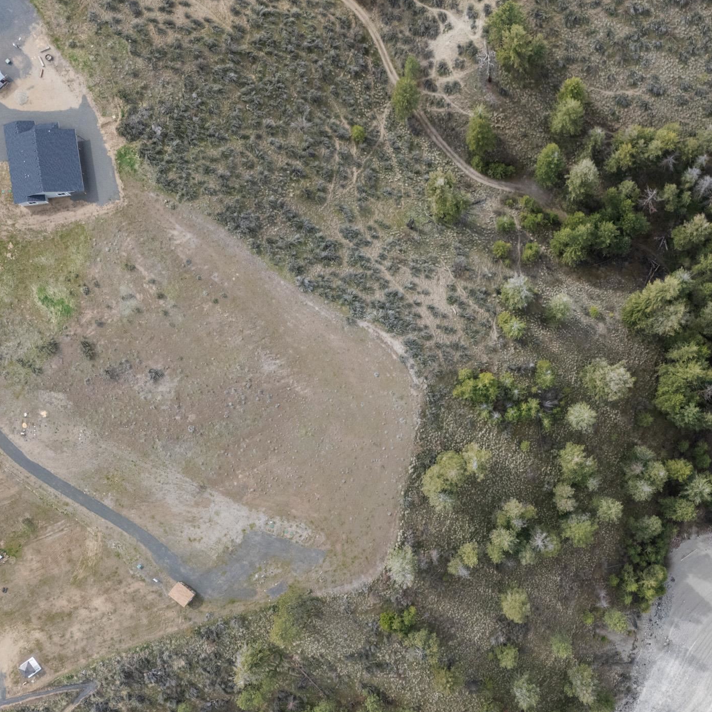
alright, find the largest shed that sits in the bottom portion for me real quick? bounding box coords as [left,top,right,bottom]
[169,581,198,607]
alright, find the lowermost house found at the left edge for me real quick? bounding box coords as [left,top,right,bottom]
[4,121,90,207]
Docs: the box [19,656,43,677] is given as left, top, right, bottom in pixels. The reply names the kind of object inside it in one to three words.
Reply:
gazebo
